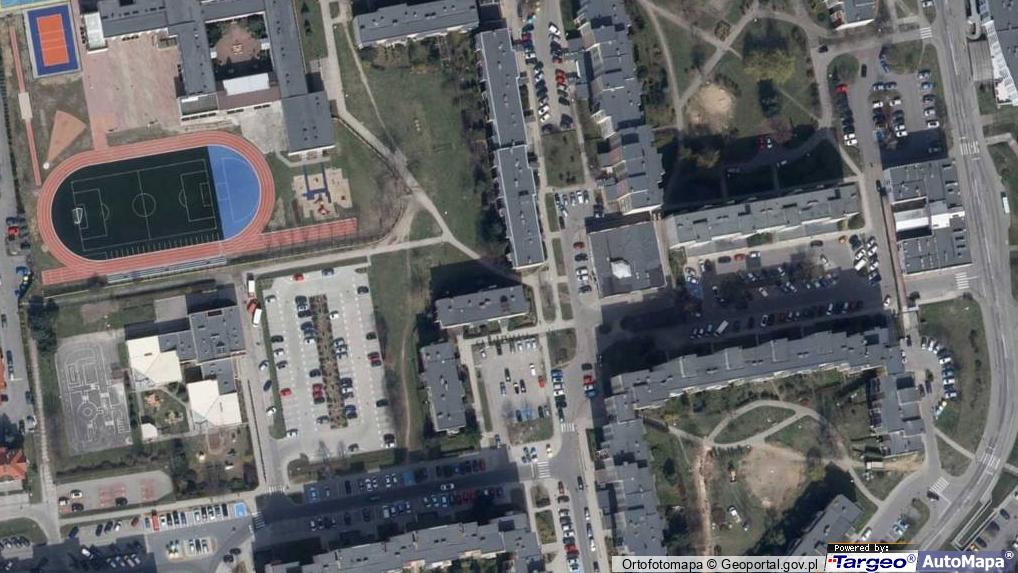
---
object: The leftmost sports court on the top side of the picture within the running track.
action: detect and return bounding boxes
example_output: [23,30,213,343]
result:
[206,146,260,241]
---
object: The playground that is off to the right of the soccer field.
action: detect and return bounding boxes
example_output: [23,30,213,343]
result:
[293,163,352,220]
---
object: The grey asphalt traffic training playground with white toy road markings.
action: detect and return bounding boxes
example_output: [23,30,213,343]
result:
[56,337,132,455]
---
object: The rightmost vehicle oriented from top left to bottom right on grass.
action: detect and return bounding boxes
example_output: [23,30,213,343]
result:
[728,507,742,524]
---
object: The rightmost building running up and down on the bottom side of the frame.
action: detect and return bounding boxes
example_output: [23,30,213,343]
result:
[868,345,925,459]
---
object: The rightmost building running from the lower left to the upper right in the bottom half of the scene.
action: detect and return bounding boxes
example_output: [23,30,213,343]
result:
[774,495,862,573]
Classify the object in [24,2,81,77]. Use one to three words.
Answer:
sports court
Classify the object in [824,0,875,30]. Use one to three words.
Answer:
building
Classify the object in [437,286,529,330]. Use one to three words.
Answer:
building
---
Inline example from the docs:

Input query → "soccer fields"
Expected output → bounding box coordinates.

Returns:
[53,146,222,261]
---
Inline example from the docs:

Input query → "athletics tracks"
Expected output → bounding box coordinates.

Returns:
[39,132,358,285]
